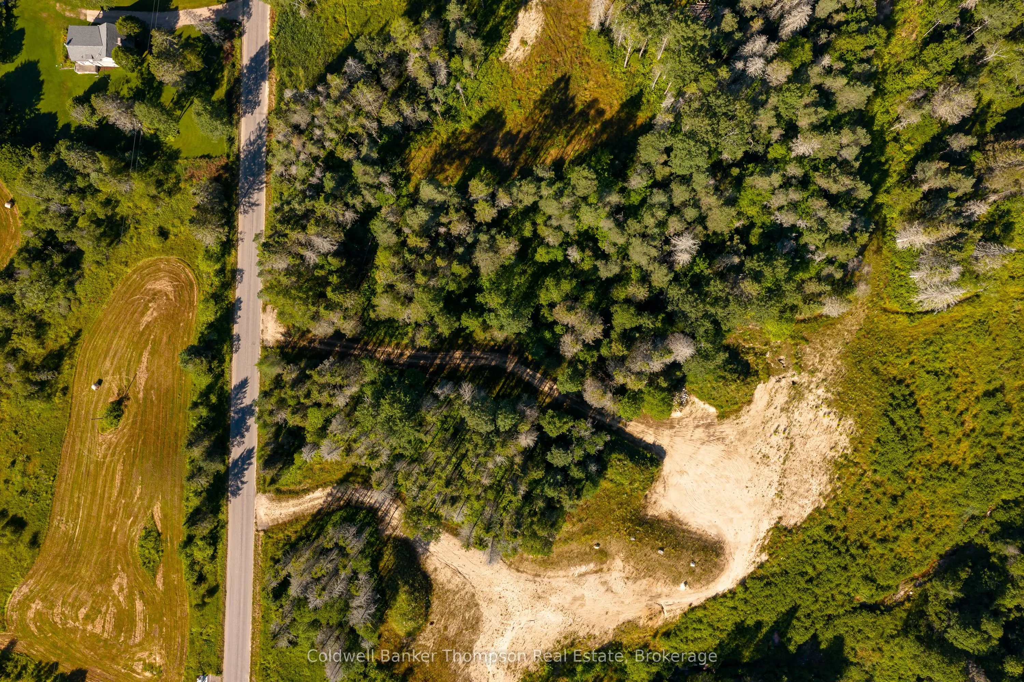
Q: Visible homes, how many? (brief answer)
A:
one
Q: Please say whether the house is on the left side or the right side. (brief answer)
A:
left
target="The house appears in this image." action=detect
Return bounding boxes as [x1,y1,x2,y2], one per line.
[64,22,134,76]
